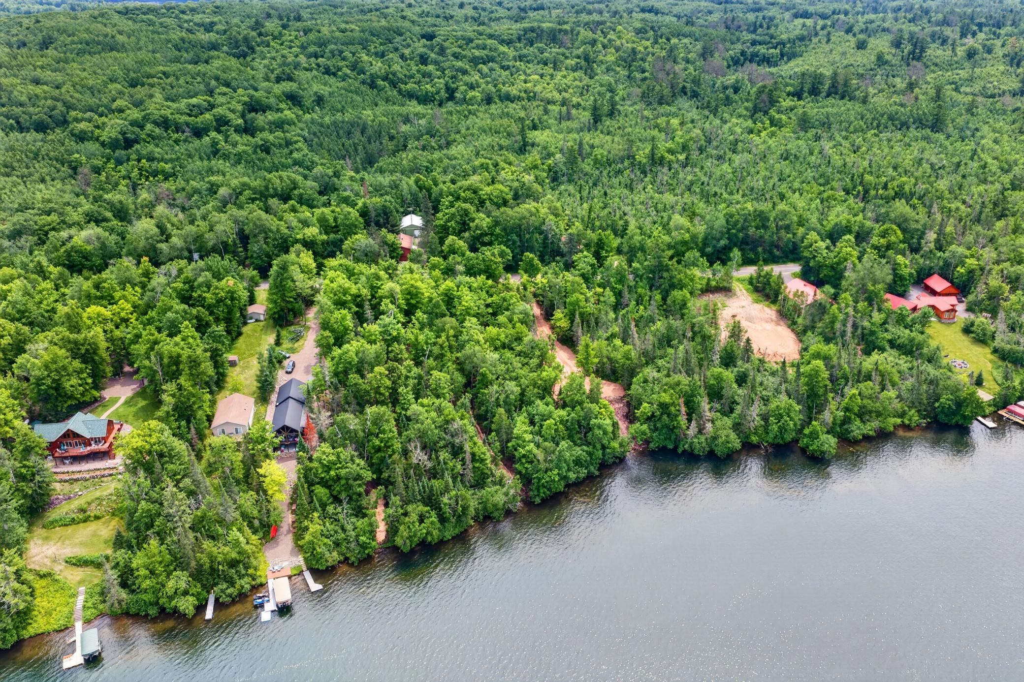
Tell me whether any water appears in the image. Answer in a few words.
Yes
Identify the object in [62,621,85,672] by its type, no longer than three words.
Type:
pier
